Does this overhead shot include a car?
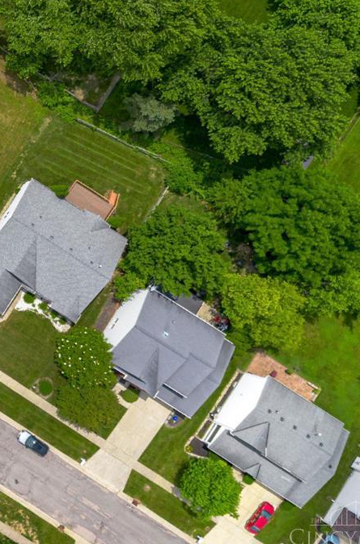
Yes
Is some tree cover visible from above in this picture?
Yes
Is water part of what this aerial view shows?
No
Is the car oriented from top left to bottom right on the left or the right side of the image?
left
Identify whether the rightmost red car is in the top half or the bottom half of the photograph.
bottom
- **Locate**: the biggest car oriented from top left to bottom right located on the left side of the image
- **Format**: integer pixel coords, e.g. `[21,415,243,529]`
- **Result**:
[14,429,51,459]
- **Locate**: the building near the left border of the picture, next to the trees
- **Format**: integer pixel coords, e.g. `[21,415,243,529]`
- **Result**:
[0,179,127,324]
